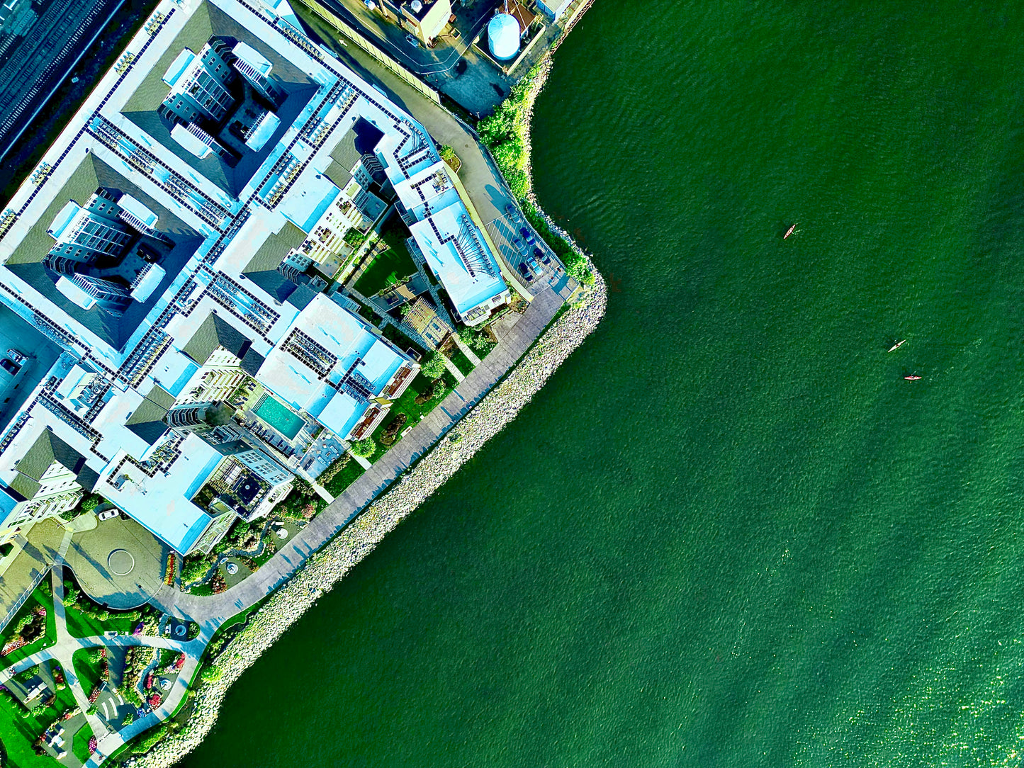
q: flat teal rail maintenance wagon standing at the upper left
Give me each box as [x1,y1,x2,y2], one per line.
[10,7,31,30]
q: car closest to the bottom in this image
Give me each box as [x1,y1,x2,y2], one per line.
[96,509,118,521]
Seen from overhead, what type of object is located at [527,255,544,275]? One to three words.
car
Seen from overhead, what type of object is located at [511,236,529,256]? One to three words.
car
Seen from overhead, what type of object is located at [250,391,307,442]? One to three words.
swimming pool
